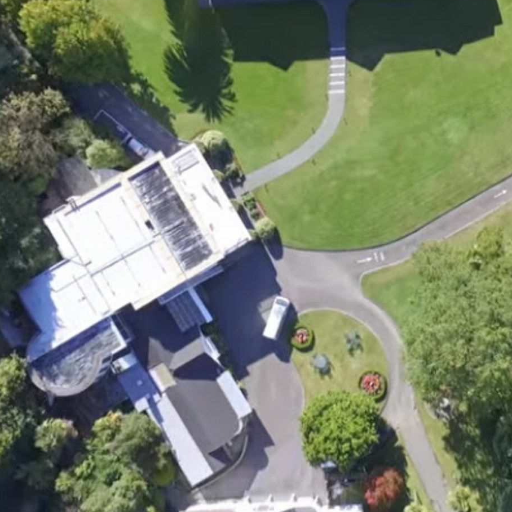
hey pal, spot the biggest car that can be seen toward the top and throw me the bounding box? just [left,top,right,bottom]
[127,134,154,157]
